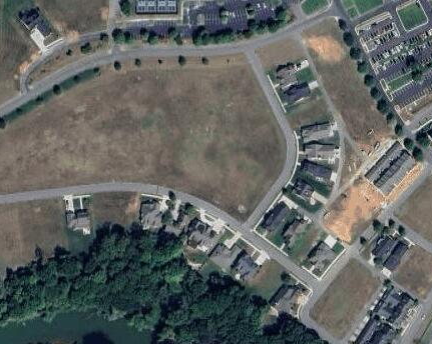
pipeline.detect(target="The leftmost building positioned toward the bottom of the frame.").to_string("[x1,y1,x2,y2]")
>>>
[66,206,90,230]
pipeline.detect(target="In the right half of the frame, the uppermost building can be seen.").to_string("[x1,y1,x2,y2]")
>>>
[276,62,299,84]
